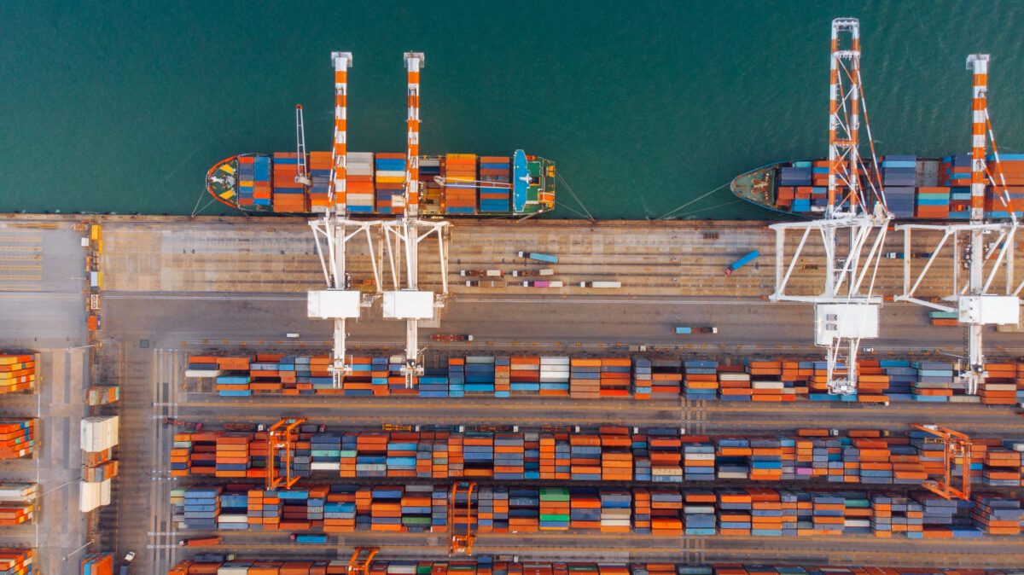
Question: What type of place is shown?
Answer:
port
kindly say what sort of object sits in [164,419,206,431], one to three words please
vehicle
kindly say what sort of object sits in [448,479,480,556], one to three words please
container crane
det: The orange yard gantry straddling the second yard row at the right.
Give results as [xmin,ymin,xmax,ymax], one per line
[912,423,972,495]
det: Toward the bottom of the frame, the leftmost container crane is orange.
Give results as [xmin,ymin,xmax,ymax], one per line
[268,417,311,489]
